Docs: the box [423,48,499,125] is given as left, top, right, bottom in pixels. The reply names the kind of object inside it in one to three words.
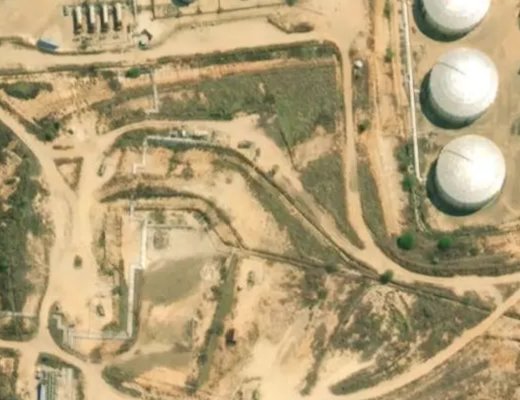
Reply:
storage tank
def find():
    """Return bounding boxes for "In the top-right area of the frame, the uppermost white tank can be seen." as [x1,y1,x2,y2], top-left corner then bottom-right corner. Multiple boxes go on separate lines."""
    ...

[415,0,492,41]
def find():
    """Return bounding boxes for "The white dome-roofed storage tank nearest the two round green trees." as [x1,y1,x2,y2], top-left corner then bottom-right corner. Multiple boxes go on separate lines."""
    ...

[430,135,506,211]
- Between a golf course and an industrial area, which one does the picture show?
industrial area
